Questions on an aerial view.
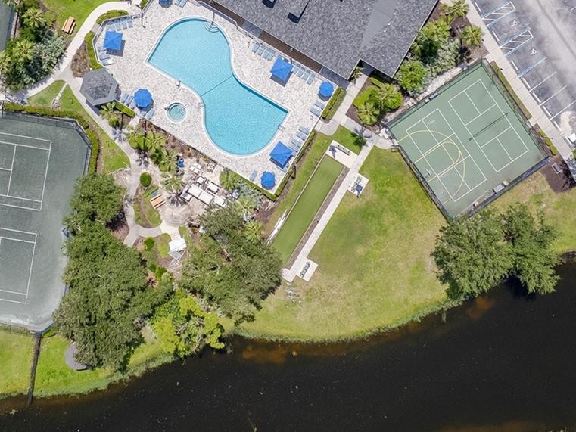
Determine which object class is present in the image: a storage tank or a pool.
pool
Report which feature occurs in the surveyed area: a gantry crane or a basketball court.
basketball court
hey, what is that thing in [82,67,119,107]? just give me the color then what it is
gray gazebo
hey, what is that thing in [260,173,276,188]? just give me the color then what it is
blue umbrella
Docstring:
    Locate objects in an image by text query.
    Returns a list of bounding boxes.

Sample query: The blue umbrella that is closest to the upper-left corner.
[103,32,122,51]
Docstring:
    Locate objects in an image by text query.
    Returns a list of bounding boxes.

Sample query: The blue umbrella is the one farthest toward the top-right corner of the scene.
[319,82,334,97]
